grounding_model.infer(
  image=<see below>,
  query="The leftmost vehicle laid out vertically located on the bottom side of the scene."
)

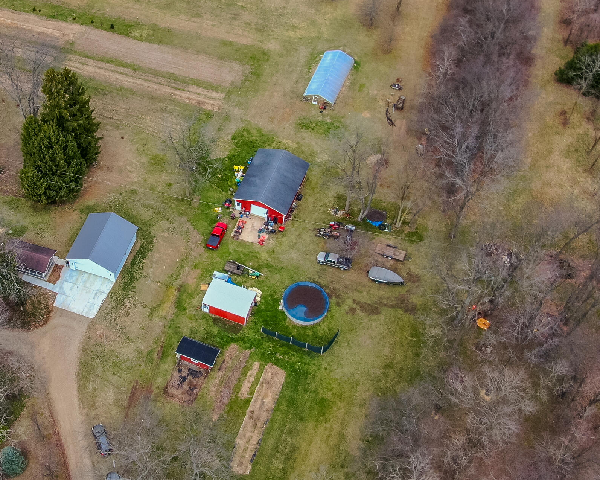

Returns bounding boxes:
[92,423,110,456]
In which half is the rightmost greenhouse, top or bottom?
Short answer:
top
